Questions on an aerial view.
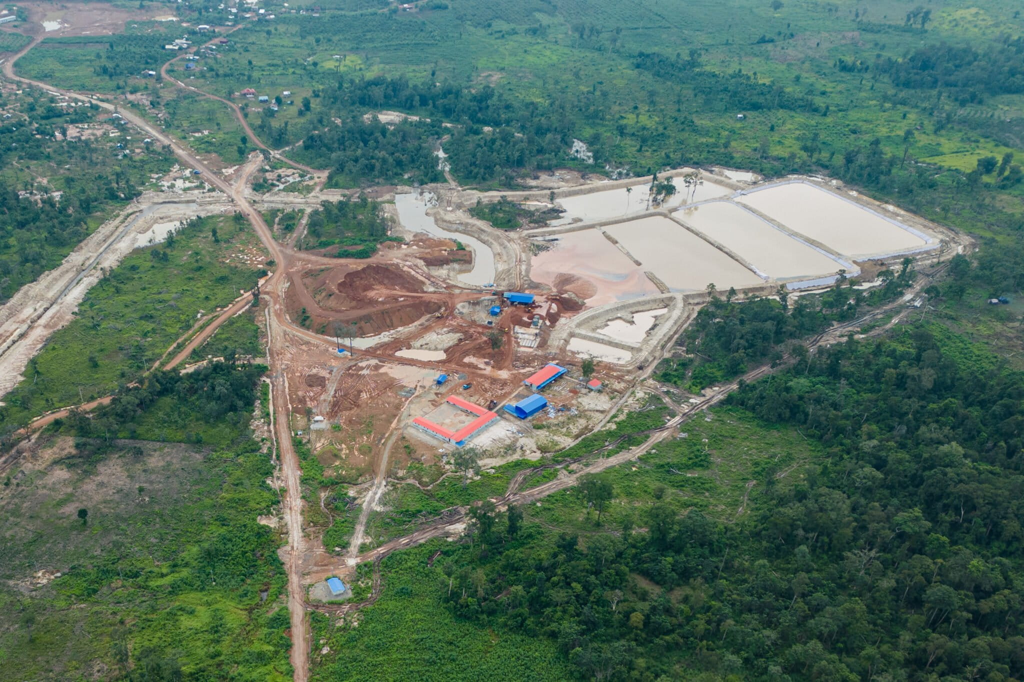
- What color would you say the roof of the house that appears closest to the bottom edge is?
blue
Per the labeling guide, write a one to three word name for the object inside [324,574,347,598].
house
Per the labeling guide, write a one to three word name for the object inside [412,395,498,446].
building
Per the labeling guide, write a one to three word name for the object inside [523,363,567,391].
building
